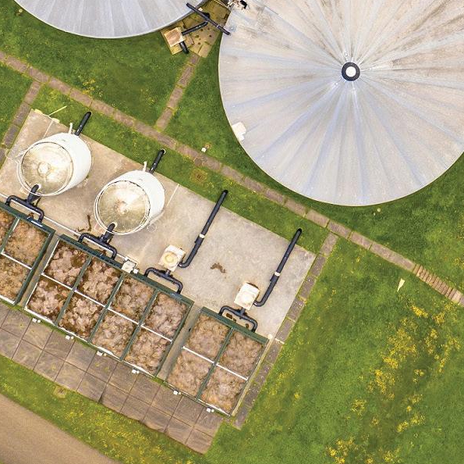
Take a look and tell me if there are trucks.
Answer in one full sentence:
No, I can't see a single truck in this photo.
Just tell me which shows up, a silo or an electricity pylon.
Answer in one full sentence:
Visible in the photo is a silo.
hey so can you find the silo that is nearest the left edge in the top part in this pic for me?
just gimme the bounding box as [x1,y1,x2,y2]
[4,110,92,224]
